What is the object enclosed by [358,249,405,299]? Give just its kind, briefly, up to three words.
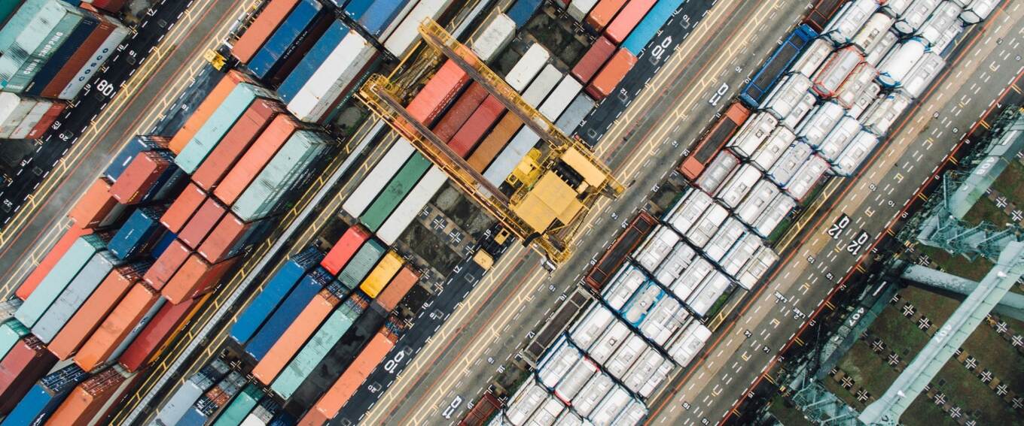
shipping container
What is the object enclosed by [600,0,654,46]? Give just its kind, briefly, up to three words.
shipping container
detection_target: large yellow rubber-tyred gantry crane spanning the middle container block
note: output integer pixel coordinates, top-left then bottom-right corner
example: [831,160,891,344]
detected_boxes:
[355,4,634,264]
